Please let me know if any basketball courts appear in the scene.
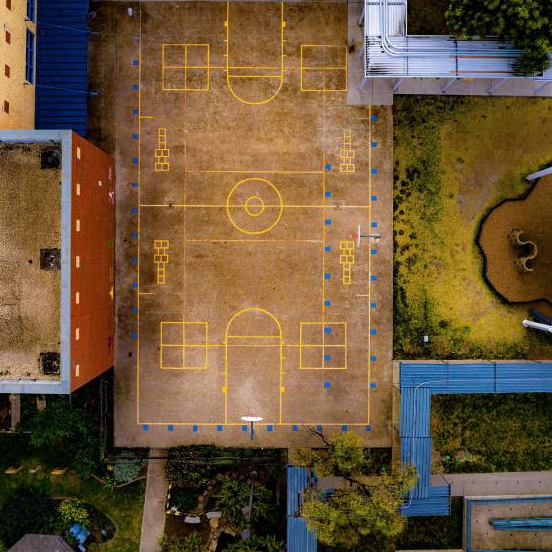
Yes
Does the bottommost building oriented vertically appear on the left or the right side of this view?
left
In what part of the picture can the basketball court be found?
center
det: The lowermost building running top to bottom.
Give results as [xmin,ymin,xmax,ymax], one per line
[0,131,114,395]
